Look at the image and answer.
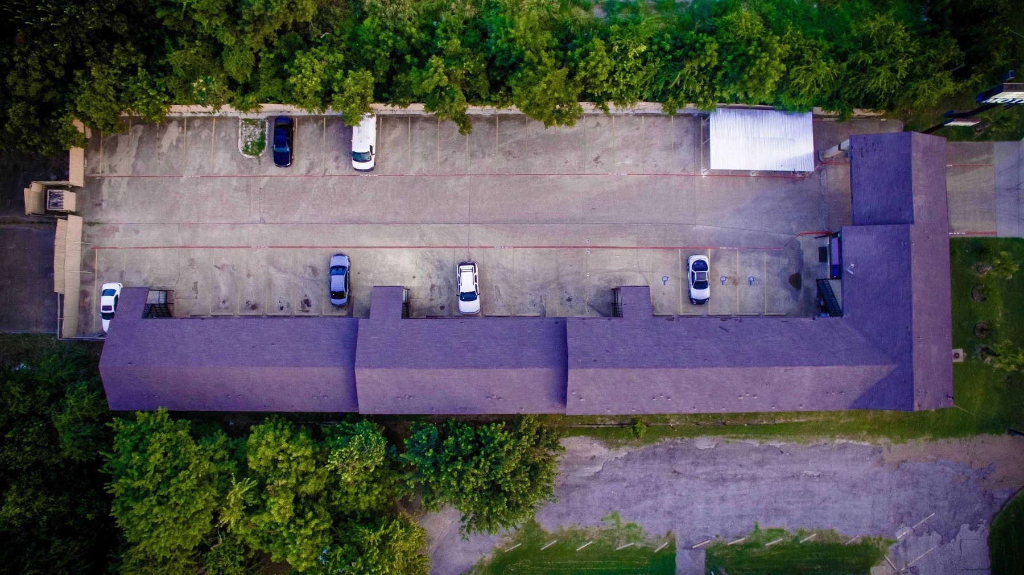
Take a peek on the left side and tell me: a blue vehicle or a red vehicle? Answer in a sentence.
You can see a blue vehicle on the left side.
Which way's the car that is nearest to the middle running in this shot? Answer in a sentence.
Seen from above, the car that is nearest to the middle lies up and down.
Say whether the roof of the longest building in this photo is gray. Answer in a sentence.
No, the roof of the longest building is actually purple.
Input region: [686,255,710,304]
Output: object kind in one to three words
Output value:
car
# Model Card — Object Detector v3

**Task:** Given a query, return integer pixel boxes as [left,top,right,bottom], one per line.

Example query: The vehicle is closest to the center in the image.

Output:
[457,262,481,313]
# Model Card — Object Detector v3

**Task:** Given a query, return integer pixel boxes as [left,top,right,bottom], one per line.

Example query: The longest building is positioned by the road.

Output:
[98,131,954,416]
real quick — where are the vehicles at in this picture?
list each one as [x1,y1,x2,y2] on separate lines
[686,255,710,304]
[352,117,377,173]
[272,118,296,167]
[100,282,124,332]
[457,262,481,313]
[328,255,351,305]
